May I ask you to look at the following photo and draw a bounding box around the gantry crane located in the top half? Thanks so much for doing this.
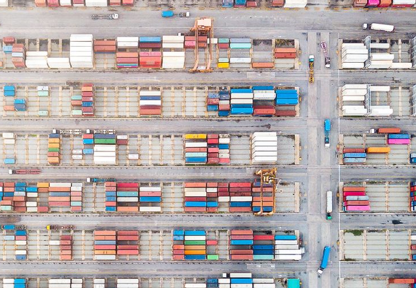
[189,16,213,73]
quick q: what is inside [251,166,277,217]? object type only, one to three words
container crane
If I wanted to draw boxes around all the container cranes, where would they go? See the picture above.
[189,16,213,73]
[251,166,277,217]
